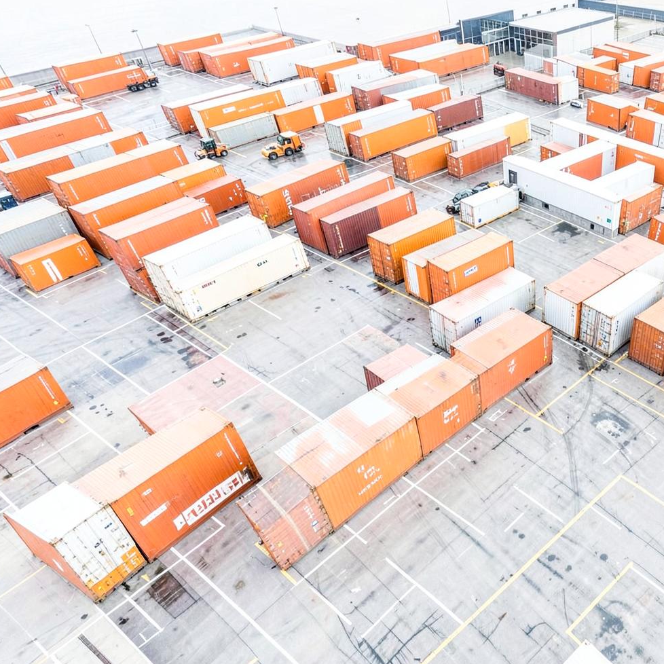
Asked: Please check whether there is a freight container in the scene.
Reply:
Yes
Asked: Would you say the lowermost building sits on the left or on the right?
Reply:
right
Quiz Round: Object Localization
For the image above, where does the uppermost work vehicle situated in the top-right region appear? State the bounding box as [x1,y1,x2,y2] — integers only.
[492,62,508,74]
